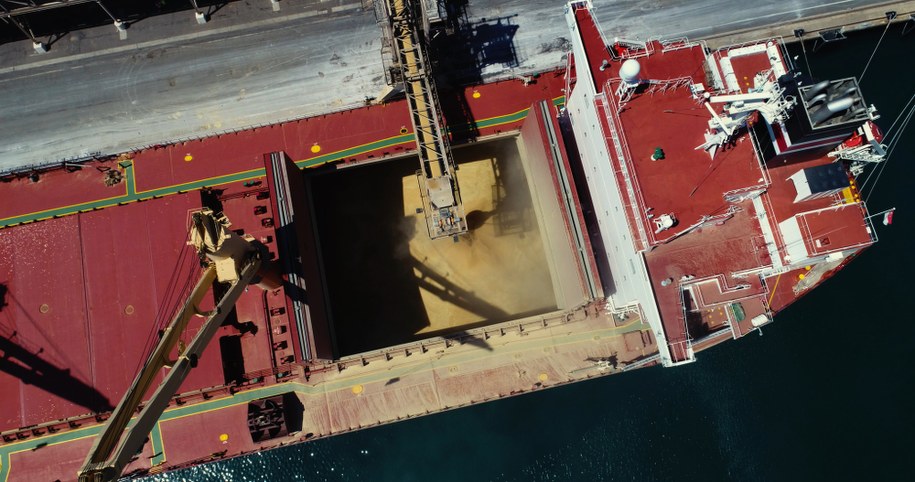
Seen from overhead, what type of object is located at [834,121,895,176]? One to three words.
boat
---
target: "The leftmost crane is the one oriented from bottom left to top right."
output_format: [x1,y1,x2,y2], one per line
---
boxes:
[69,199,283,482]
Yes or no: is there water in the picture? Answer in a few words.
Yes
